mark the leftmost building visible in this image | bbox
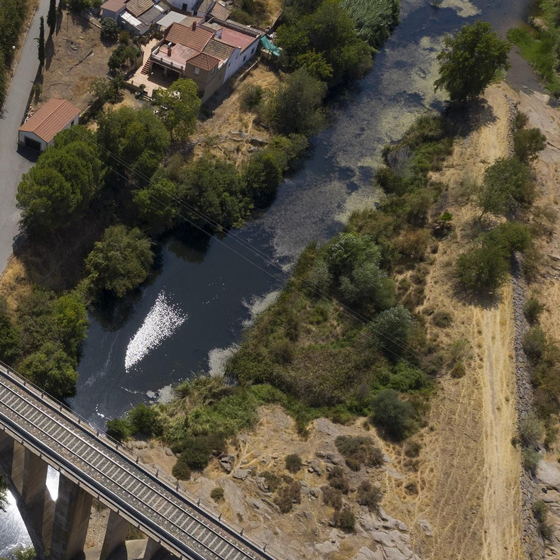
[19,98,80,161]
